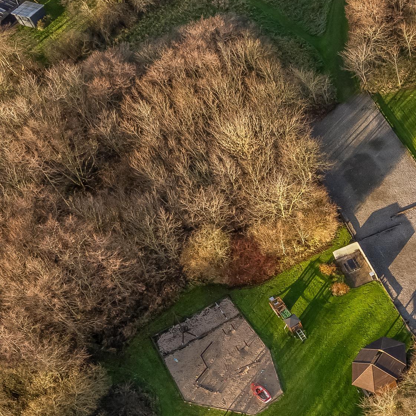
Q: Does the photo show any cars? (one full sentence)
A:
No, no car can be seen from above.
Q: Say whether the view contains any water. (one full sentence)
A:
No, water can't be seen anywhere here.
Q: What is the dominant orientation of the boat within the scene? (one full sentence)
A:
In this picture, the boat is oriented diagonally.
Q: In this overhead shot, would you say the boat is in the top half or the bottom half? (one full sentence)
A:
You can find the boat in the bottom half.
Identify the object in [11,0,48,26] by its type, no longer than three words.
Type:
shed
